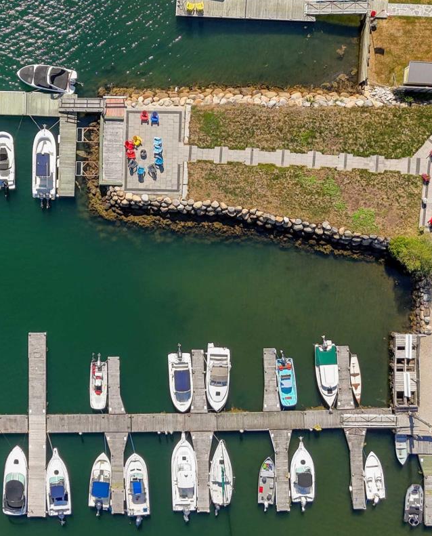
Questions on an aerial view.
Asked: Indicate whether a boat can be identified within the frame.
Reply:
Yes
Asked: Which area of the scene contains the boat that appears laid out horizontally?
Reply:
top left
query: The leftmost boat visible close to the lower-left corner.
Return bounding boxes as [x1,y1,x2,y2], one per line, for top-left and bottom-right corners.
[2,434,30,516]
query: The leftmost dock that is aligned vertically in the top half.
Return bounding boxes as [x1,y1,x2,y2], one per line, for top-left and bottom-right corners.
[57,117,77,197]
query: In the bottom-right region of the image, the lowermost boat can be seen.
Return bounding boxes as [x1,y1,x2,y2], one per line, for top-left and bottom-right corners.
[406,484,425,528]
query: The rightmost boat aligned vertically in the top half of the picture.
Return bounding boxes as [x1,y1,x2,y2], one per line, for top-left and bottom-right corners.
[30,115,60,210]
